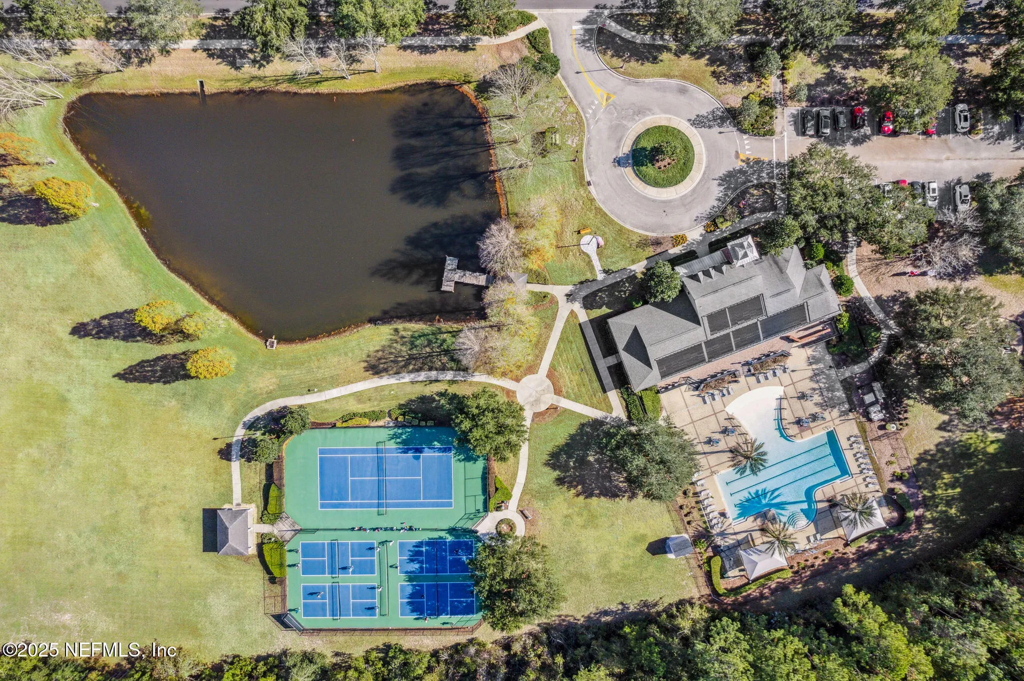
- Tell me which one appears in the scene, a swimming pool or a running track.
swimming pool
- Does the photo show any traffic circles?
Yes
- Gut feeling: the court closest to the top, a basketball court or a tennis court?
tennis court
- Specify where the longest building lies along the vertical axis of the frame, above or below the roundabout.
below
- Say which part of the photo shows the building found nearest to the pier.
center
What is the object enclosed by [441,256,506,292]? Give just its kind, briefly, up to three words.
pier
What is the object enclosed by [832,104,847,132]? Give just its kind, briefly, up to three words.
car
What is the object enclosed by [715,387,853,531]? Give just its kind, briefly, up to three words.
swimming pool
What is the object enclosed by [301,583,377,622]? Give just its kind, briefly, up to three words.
sports court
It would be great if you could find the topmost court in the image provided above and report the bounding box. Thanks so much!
[284,428,488,530]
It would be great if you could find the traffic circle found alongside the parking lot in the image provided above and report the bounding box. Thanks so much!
[589,83,736,230]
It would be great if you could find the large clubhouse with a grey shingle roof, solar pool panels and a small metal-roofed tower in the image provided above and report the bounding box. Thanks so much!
[607,235,843,391]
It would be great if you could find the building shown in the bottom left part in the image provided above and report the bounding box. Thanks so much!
[218,507,253,556]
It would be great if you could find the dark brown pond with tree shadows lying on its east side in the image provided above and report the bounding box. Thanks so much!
[65,83,505,343]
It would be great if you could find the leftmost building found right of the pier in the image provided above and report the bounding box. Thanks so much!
[506,270,527,291]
